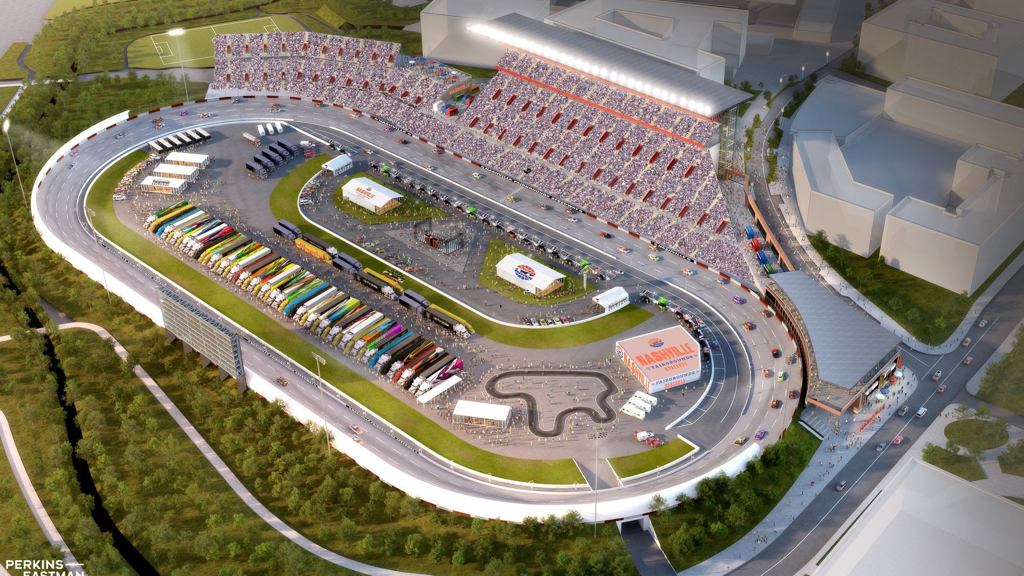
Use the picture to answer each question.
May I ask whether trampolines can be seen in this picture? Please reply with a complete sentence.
No, the scene contains no trampoline.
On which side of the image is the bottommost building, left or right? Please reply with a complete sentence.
The bottommost building appears in the right half of the scene.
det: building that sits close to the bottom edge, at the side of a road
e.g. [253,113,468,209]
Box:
[808,455,1024,576]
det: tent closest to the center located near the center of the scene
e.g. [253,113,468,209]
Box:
[494,251,566,297]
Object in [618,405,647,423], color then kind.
white camper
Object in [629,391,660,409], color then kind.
white camper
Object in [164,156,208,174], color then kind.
white tent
